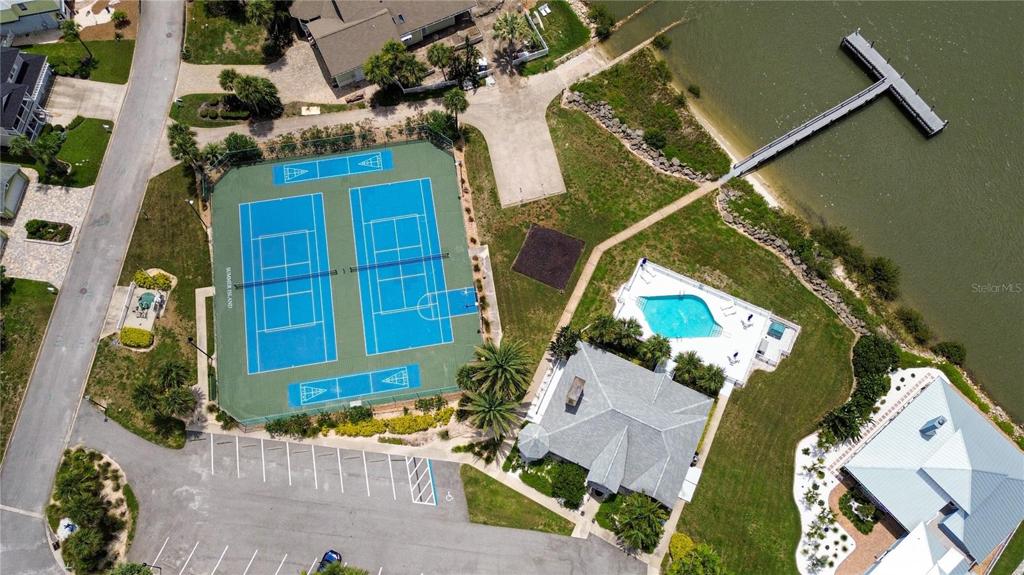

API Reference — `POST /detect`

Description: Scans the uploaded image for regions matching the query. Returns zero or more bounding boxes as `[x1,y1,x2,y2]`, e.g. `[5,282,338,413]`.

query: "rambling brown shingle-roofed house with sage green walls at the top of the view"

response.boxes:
[288,0,477,84]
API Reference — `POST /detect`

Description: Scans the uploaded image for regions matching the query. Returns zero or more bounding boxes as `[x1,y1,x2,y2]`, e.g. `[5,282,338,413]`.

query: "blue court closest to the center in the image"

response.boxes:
[417,288,478,320]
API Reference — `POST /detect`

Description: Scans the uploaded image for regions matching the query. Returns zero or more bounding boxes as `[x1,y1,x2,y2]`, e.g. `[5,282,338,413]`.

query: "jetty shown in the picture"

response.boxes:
[720,25,951,186]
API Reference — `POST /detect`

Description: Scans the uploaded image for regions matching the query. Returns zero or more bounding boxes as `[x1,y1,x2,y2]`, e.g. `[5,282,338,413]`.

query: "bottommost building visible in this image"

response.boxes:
[859,523,970,575]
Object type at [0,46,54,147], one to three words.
house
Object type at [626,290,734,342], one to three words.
swimming pool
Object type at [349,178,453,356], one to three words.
tennis court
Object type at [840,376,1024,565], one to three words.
house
